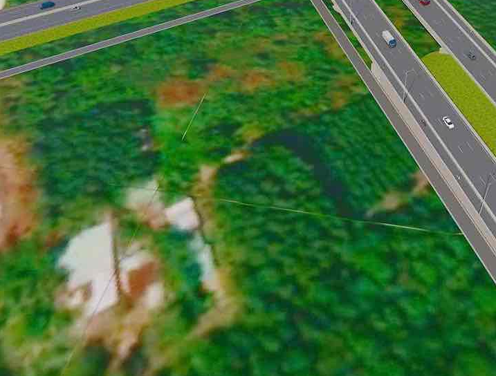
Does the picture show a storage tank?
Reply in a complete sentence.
No, no storage tank is visible in the view.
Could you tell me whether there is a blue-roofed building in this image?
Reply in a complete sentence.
No, this view has no blue-roofed building in it.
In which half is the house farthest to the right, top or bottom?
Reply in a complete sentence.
The house farthest to the right is in the bottom half of the image.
